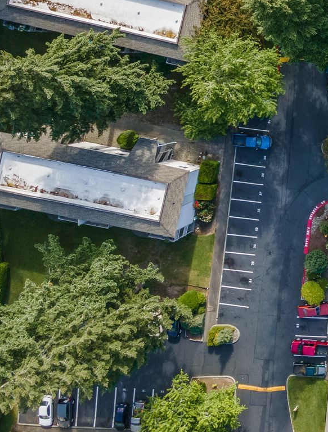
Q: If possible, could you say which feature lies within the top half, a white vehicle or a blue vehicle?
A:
blue vehicle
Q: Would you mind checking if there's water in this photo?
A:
No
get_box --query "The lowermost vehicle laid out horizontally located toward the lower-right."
[292,360,328,377]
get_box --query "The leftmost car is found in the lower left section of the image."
[37,394,56,427]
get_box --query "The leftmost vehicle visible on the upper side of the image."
[232,133,272,150]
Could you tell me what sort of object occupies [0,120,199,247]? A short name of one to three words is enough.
building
